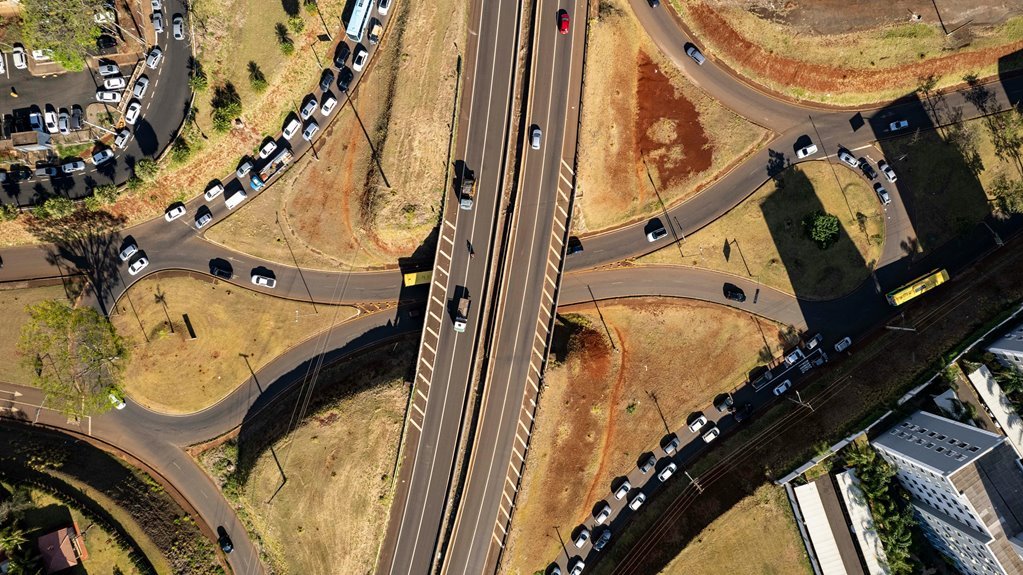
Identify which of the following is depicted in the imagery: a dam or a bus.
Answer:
bus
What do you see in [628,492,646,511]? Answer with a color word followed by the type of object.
white car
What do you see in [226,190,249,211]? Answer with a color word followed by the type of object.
white vehicle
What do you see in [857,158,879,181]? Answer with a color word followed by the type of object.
black truck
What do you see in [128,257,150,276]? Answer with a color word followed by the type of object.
white car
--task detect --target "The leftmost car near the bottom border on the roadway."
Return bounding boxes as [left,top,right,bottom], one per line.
[220,532,235,554]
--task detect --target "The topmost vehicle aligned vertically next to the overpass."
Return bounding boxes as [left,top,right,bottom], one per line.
[459,172,477,211]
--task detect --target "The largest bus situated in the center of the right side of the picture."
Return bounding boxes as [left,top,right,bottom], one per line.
[878,268,949,308]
